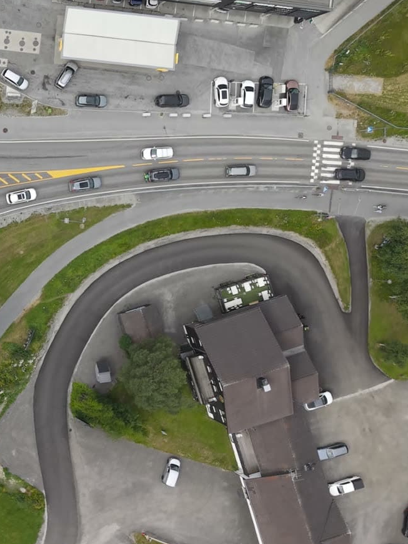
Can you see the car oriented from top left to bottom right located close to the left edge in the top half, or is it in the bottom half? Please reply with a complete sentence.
You can find the car oriented from top left to bottom right located close to the left edge in the top half.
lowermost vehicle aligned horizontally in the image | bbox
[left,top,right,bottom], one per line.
[331,476,363,495]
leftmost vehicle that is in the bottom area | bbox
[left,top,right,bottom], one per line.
[163,456,182,487]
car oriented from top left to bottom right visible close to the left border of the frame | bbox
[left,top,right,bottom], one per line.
[0,67,30,91]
